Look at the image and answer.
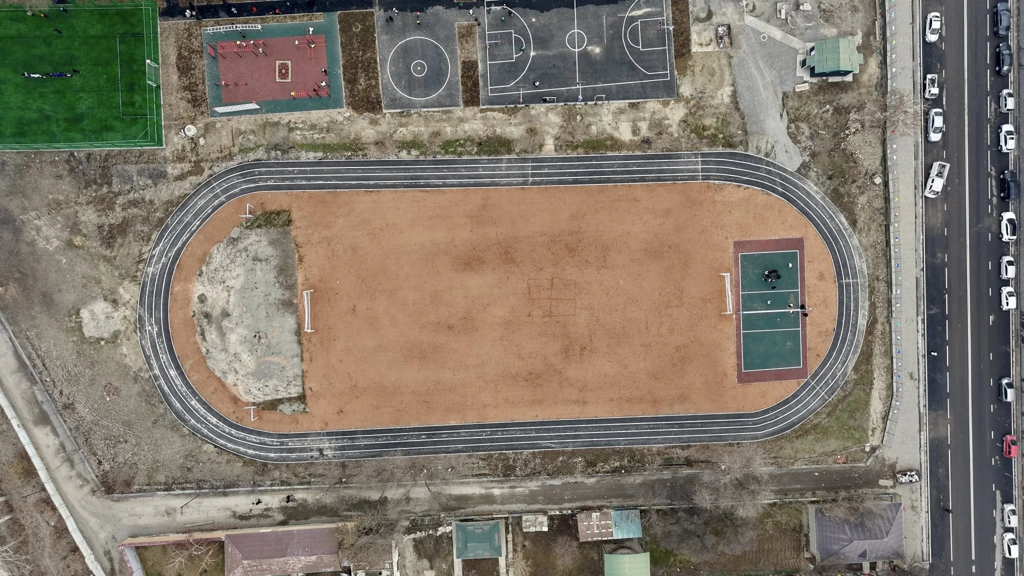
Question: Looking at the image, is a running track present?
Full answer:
Yes, a running track can be made out from above.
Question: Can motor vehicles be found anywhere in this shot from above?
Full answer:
Yes, the picture does show a motor vehicle.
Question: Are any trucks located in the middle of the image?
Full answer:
No, in the middle of the image there is no truck.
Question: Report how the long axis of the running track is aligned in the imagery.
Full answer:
I'd say the running track is aligned from left to right in the picture.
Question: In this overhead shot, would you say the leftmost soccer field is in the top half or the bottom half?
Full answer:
It is in the top half that the leftmost soccer field appears.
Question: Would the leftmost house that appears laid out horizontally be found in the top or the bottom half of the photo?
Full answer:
You can find the leftmost house that appears laid out horizontally in the bottom half.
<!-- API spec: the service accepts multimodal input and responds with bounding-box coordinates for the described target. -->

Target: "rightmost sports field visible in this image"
[169,182,838,433]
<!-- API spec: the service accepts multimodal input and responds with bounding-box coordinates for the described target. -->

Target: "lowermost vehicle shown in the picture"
[1003,534,1020,561]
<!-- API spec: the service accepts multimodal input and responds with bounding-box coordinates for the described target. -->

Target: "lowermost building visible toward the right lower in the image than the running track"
[601,546,650,576]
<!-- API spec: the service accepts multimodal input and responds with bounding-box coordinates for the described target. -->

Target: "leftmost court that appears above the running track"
[201,12,345,119]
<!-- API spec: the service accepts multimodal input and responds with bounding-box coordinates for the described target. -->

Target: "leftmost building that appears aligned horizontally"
[225,522,342,576]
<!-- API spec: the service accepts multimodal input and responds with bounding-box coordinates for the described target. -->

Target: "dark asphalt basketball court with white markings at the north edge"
[476,0,677,107]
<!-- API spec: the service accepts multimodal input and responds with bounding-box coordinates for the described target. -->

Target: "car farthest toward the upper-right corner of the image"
[995,2,1012,35]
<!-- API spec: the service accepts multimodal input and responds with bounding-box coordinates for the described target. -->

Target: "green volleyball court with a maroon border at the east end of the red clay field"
[733,236,809,384]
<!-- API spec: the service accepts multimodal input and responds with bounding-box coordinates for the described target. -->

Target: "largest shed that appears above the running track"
[800,38,863,77]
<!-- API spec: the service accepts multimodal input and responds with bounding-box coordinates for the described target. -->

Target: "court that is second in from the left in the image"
[375,0,481,112]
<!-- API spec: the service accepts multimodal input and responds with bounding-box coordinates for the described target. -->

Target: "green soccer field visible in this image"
[0,0,165,150]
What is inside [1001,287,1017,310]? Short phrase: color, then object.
white car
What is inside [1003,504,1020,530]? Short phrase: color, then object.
white car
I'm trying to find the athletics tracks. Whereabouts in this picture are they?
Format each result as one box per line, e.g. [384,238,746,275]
[138,151,868,463]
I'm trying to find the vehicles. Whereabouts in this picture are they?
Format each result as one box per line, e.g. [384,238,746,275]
[1000,378,1016,403]
[995,2,1012,35]
[1001,169,1020,200]
[1001,287,1017,310]
[1003,534,1020,561]
[1001,212,1019,240]
[1001,256,1017,279]
[1004,436,1020,459]
[927,160,951,198]
[1003,504,1020,530]
[925,10,941,42]
[1000,87,1016,111]
[996,42,1013,74]
[925,72,941,98]
[928,107,944,140]
[1000,124,1016,151]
